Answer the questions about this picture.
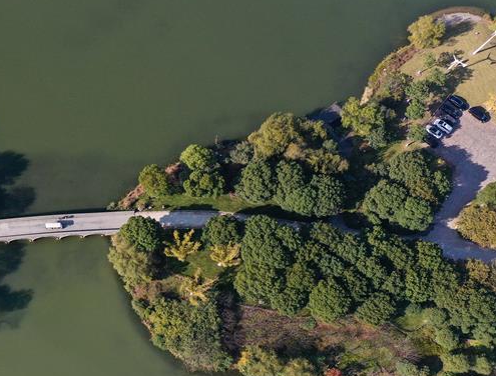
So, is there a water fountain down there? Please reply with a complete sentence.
No, I can see no water fountain in this picture.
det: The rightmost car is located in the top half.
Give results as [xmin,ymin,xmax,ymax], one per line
[467,106,489,124]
